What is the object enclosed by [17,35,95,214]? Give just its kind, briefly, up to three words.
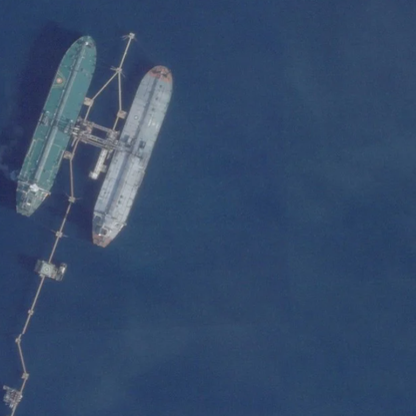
ship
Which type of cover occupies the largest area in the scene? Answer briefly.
water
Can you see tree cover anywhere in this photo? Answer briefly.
No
